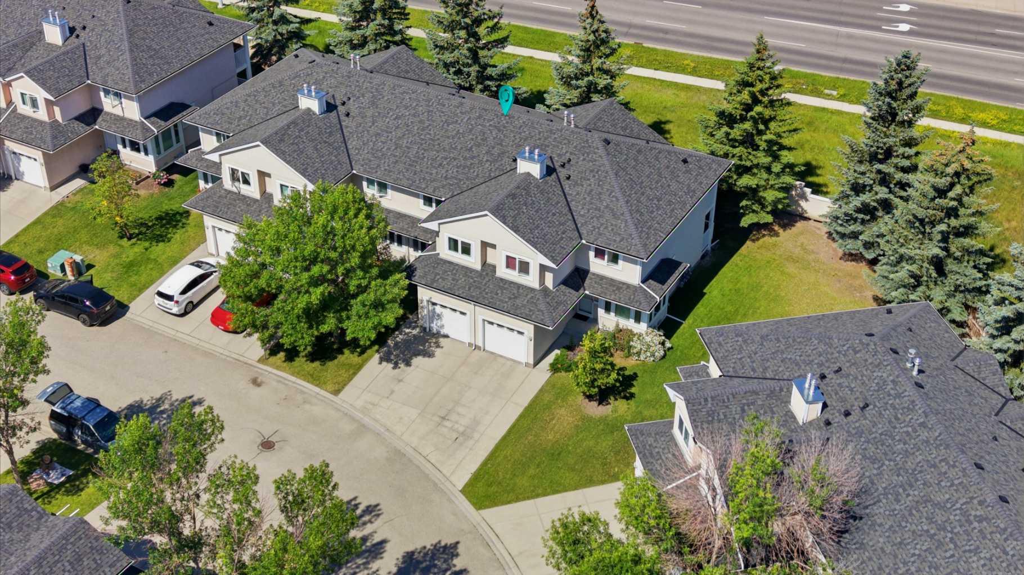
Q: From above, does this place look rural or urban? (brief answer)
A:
urban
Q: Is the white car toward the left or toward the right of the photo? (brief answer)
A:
left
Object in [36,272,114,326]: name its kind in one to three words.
car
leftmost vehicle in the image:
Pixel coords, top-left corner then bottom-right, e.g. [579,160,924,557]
[0,252,31,293]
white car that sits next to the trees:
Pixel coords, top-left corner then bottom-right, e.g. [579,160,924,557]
[157,259,229,307]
